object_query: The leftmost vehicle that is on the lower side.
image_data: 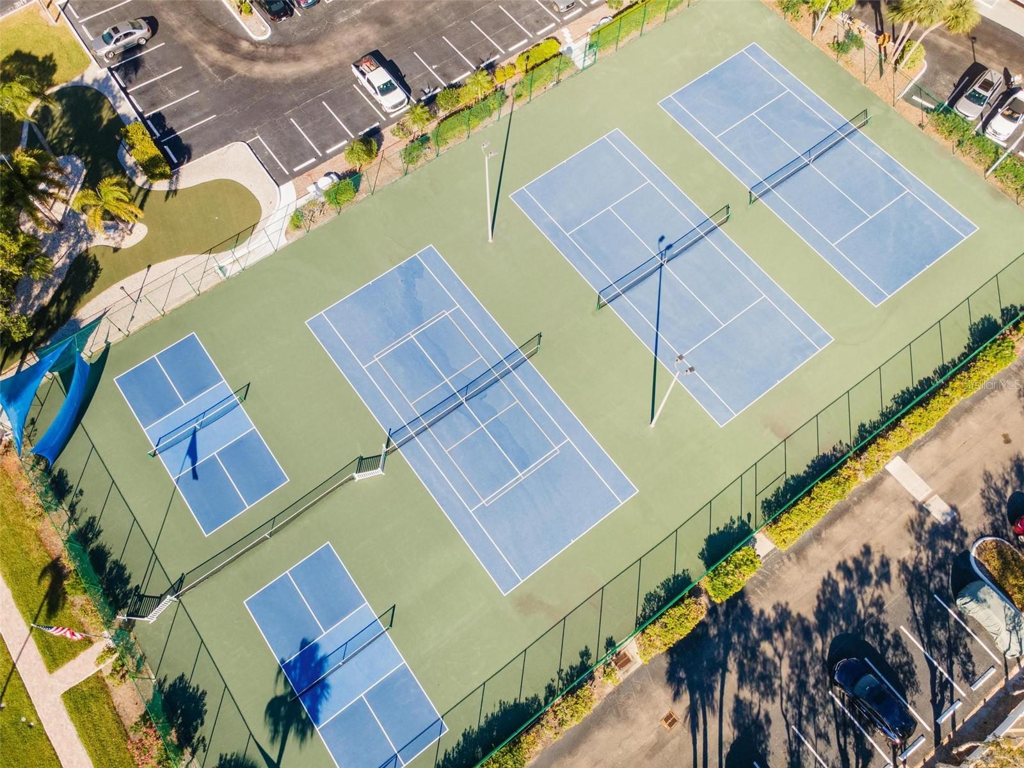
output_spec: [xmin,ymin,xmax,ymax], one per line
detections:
[834,661,918,744]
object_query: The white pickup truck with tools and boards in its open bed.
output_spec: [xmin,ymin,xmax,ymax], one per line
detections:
[353,55,405,111]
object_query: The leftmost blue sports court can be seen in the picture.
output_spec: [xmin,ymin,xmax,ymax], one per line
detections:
[114,333,289,535]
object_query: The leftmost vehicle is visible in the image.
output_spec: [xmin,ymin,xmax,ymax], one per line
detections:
[92,20,152,57]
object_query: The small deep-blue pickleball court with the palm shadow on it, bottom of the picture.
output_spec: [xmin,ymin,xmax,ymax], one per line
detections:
[243,543,449,768]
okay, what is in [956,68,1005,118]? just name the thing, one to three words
car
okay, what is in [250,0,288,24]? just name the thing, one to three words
car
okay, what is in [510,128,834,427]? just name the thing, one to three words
tennis court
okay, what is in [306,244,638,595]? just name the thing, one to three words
tennis court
